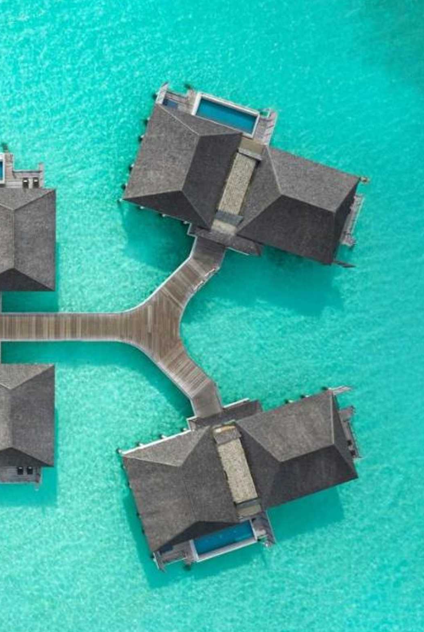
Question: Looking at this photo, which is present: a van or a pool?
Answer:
pool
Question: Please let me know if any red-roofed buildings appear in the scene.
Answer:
No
